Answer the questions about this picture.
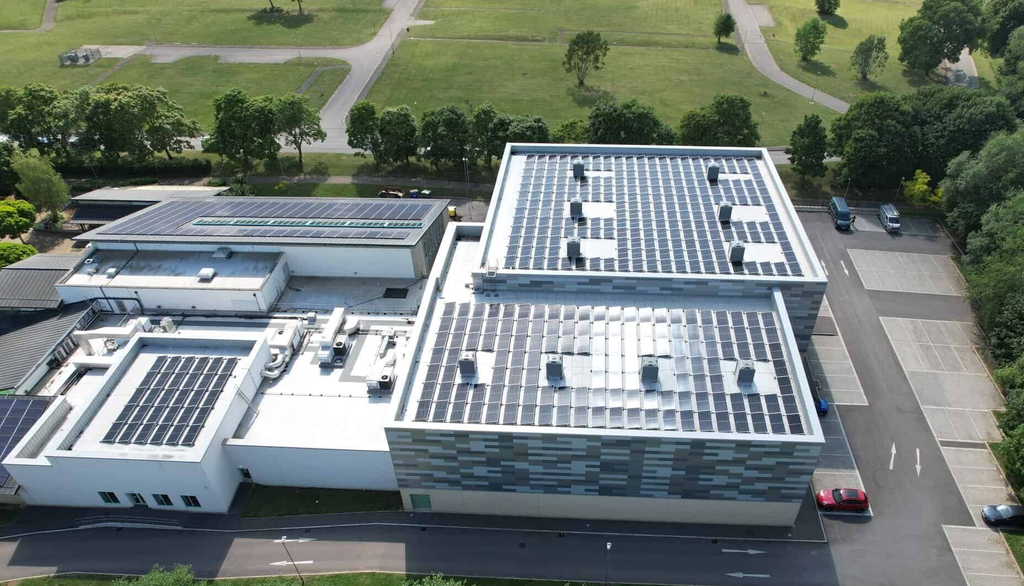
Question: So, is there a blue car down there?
Yes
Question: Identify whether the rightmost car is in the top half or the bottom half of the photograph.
bottom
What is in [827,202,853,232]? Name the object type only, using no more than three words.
vehicle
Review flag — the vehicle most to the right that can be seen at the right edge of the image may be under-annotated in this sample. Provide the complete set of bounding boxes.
[987,503,1024,527]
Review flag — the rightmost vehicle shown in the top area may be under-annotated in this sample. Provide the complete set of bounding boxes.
[876,207,903,235]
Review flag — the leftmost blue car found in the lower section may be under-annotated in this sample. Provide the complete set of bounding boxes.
[814,398,832,415]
